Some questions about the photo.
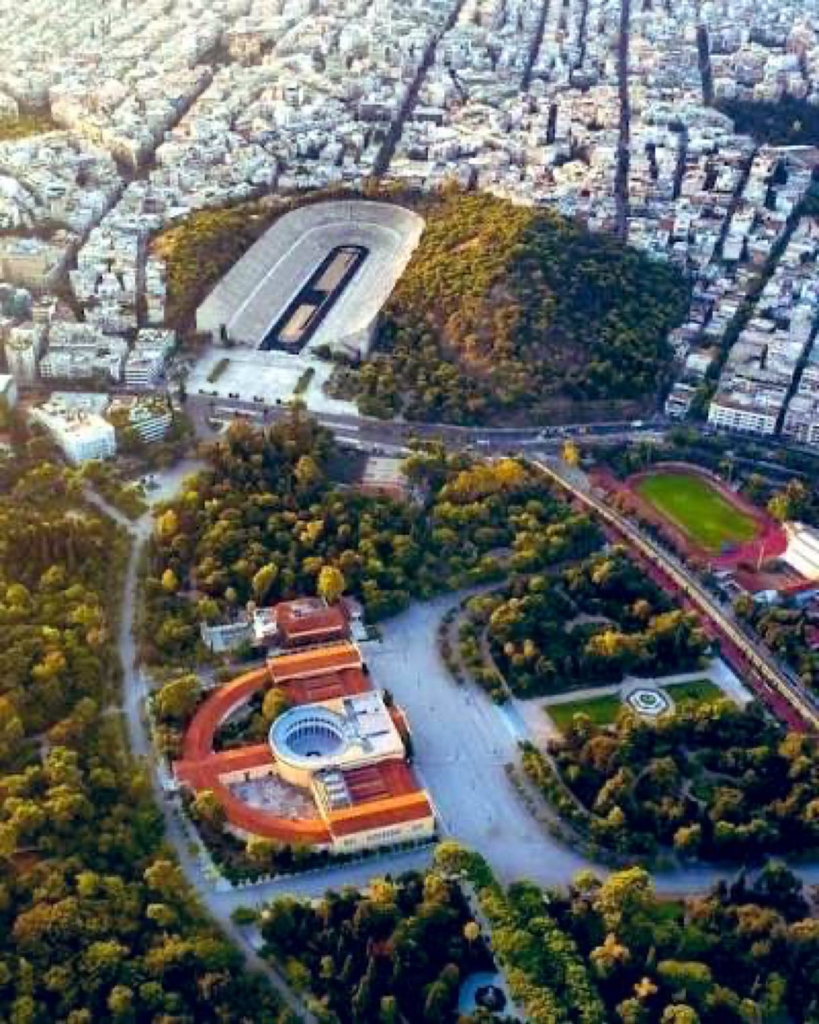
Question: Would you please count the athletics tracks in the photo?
2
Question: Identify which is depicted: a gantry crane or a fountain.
fountain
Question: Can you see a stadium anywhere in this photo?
Yes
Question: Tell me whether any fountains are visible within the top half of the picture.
No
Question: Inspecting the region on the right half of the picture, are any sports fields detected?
Yes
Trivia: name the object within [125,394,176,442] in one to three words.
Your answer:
building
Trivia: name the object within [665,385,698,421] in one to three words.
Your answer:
building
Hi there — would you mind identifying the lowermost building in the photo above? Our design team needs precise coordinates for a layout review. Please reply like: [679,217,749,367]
[168,643,435,860]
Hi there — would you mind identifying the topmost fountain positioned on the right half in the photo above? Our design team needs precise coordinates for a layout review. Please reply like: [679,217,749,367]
[619,681,675,719]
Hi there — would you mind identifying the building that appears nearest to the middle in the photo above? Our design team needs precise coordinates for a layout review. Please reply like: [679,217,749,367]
[362,457,408,487]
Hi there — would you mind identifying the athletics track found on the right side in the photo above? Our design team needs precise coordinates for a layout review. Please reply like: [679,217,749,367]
[621,459,788,566]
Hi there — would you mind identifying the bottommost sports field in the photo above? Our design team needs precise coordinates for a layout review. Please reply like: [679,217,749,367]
[636,470,764,551]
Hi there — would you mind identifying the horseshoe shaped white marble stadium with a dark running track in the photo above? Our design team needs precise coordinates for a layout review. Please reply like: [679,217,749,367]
[195,198,426,354]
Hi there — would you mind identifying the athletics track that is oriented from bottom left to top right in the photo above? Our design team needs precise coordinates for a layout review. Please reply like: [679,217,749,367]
[258,246,369,354]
